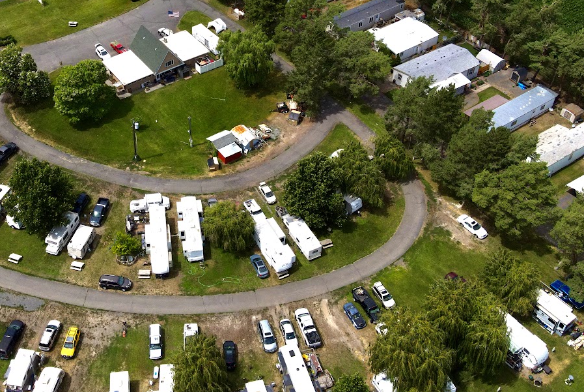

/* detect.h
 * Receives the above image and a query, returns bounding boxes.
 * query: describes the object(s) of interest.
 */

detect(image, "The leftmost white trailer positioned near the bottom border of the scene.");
[5,350,38,392]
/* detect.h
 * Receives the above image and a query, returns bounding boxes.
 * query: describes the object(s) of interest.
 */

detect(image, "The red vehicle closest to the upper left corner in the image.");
[107,42,130,56]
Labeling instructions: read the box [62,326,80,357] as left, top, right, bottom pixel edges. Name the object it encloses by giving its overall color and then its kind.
yellow car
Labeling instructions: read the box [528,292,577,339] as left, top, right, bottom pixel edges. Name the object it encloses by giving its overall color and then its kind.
white trailer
